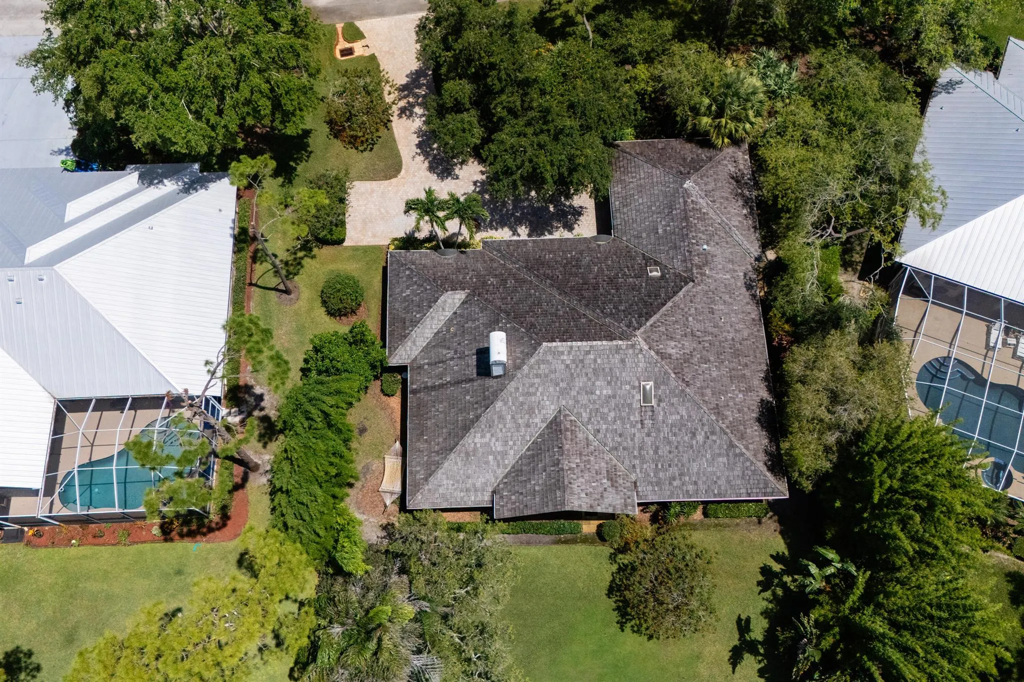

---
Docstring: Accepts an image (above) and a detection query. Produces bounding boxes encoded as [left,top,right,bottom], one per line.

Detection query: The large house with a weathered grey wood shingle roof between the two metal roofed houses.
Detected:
[383,137,789,522]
